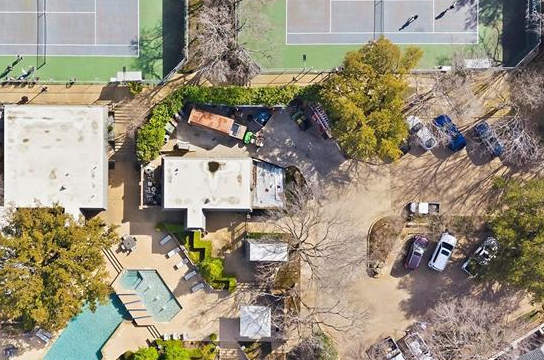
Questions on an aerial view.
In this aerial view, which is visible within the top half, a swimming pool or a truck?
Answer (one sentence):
What appears within the top half is a truck.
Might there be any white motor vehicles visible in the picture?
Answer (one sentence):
Yes, looking at the shot, I can spot a white motor vehicle.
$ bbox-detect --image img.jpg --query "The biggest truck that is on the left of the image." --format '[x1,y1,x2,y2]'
[187,107,245,141]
